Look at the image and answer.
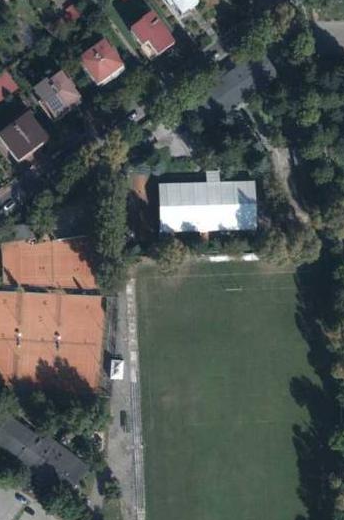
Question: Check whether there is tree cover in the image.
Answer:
Yes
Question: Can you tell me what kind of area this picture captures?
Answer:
sports ground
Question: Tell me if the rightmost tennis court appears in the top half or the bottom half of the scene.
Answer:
bottom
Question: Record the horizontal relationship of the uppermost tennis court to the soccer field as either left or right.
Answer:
on the left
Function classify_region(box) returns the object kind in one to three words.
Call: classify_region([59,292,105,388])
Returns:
tennis court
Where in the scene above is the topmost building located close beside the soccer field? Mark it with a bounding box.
[158,180,258,234]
